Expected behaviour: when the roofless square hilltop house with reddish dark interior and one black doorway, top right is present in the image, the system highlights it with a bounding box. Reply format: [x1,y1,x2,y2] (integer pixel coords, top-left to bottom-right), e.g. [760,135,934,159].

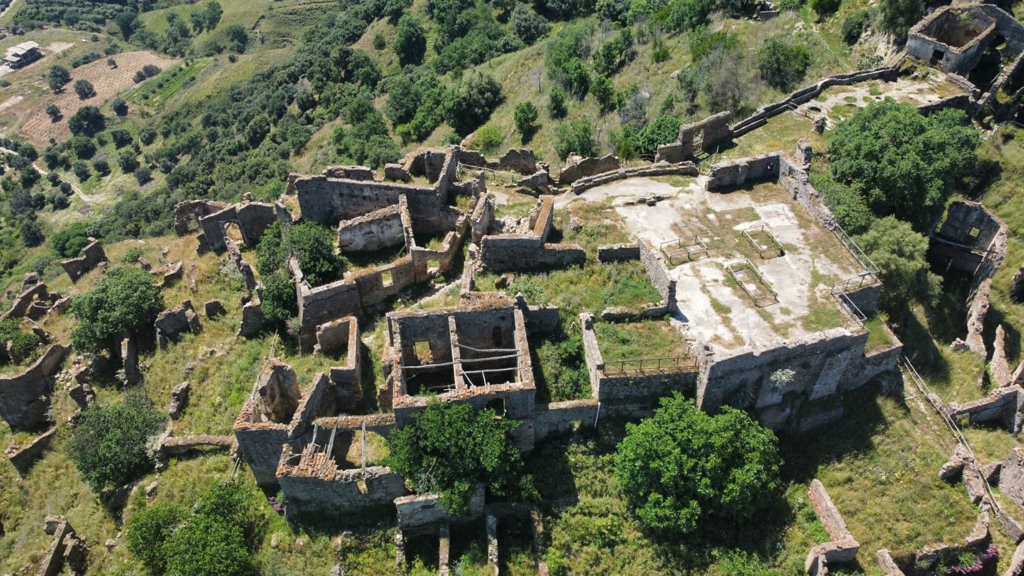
[901,5,999,83]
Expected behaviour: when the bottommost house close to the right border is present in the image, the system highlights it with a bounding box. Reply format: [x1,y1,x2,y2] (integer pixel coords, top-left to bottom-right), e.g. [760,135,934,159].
[934,381,1024,444]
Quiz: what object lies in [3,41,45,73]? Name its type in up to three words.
house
